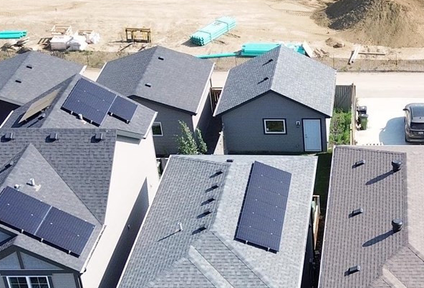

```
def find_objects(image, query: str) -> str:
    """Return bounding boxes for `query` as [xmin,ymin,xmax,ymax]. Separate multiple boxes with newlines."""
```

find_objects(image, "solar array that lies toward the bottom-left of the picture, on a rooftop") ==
[0,184,94,251]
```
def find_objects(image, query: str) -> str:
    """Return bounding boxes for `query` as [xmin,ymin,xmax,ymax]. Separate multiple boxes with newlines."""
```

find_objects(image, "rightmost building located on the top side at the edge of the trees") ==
[211,48,340,154]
